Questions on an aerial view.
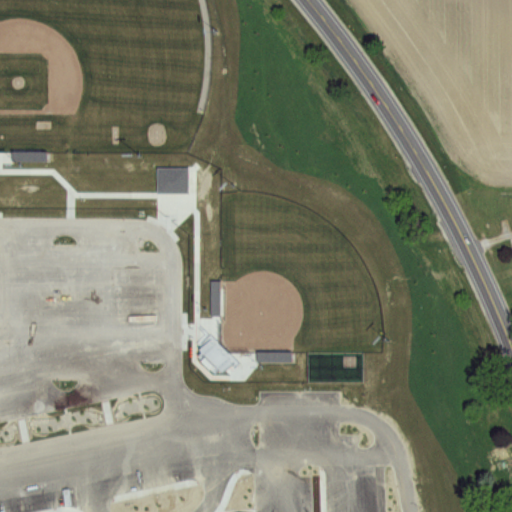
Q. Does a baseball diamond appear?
Yes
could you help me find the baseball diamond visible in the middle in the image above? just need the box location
[222,191,383,352]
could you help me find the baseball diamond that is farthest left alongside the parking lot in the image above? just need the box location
[0,0,204,153]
